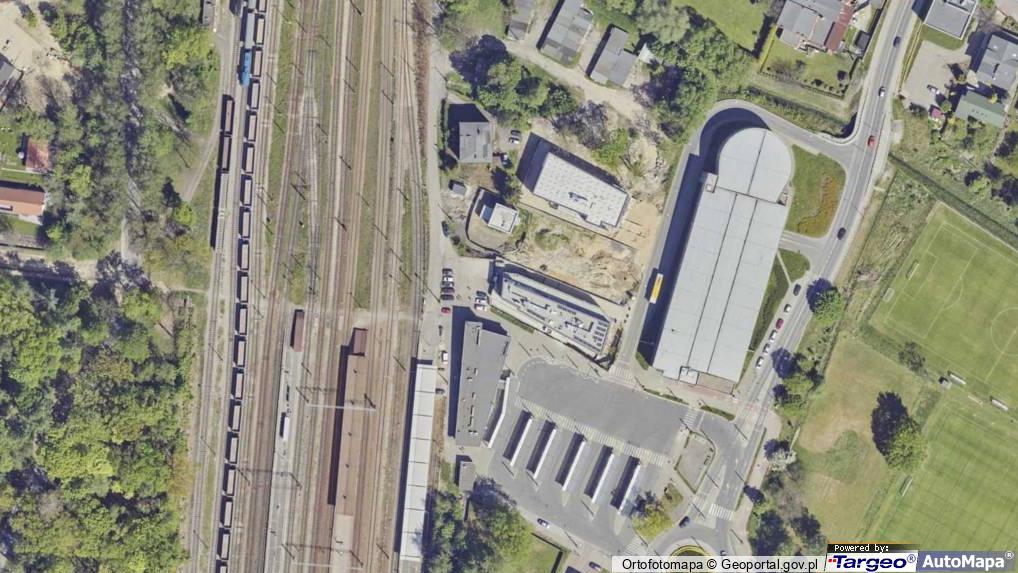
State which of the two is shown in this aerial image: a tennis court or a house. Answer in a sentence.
The one in the frame is a house.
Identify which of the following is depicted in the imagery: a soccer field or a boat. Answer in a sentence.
Looking from above, you can make out a soccer field.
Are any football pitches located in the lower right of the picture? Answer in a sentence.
Yes, you'll find a football pitch in the lower right of the picture.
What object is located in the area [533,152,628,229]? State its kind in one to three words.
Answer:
building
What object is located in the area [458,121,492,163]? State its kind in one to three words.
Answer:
house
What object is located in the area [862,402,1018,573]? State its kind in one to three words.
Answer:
soccer field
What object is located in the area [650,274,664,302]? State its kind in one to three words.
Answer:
vehicle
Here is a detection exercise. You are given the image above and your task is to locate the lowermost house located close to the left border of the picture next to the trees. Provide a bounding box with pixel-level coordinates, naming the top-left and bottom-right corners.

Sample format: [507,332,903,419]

[0,188,46,217]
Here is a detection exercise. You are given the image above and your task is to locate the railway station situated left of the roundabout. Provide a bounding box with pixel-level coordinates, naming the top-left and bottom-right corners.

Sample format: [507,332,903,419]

[264,306,438,573]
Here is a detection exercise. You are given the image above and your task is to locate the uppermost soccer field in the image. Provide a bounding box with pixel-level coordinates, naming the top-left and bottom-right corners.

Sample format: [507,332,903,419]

[870,204,1018,409]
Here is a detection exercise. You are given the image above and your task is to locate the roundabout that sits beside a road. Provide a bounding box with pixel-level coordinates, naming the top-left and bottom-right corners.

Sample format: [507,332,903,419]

[641,520,736,573]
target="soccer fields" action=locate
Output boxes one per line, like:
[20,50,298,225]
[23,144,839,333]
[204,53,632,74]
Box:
[870,204,1018,409]
[862,402,1018,573]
